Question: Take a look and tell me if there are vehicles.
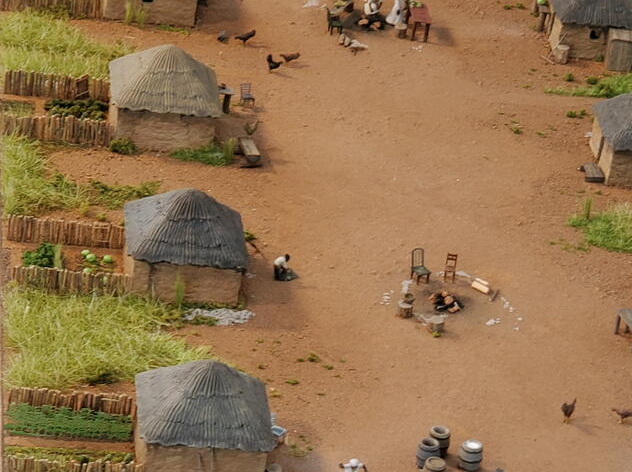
No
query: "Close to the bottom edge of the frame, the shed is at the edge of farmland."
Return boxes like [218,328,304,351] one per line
[138,359,279,472]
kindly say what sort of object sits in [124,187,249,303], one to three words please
shed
